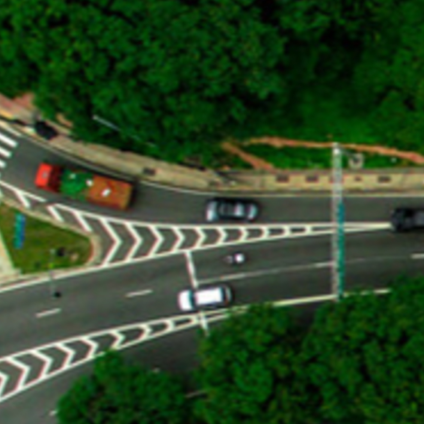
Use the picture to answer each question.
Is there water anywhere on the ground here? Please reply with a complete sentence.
No, no water is visible.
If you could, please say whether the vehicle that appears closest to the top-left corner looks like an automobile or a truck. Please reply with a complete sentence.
Specifically, the vehicle that appears closest to the top-left corner is a truck.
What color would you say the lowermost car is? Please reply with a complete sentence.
The lowermost car looks white in the image.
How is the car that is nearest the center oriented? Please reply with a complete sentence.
The car that is nearest the center runs from left to right in the image.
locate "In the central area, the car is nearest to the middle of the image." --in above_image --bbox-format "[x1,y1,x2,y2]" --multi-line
[206,196,260,221]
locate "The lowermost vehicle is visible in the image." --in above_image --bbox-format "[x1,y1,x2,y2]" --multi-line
[177,283,234,312]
